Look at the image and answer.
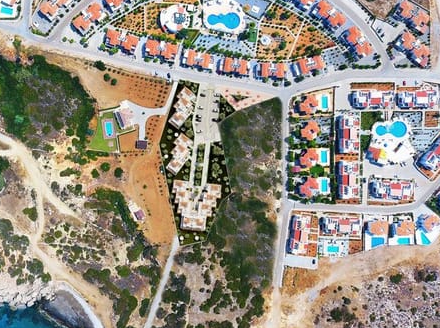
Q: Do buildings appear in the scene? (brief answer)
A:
Yes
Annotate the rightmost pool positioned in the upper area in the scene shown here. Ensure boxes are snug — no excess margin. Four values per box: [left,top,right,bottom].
[375,120,408,138]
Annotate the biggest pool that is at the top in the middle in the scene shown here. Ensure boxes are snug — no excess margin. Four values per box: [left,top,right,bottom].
[207,12,241,30]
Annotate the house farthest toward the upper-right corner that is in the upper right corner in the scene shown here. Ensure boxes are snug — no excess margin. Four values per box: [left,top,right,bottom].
[392,0,432,32]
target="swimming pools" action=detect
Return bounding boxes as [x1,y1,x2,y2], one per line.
[327,244,340,252]
[397,237,410,245]
[321,94,328,109]
[371,237,385,247]
[207,12,241,30]
[321,179,328,192]
[106,121,113,135]
[0,5,14,16]
[320,150,327,162]
[375,120,408,138]
[420,231,433,245]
